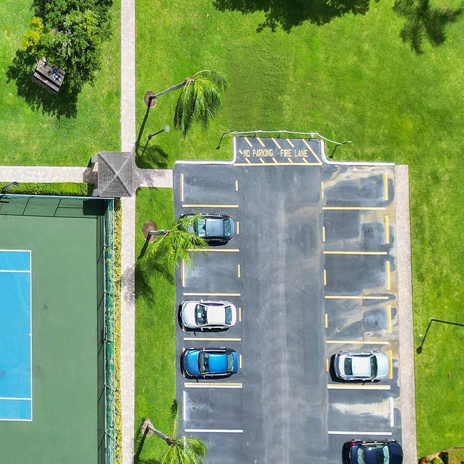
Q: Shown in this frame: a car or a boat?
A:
car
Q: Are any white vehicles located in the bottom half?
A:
Yes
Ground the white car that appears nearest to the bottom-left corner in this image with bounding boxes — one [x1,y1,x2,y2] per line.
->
[182,299,242,336]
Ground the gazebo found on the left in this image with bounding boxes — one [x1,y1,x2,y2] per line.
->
[90,151,135,197]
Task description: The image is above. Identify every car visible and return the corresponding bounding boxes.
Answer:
[182,299,242,336]
[335,350,394,387]
[186,212,241,246]
[184,347,244,384]
[346,441,407,464]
